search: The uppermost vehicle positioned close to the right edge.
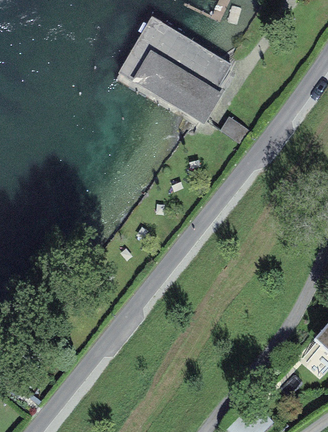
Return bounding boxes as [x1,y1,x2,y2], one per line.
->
[310,76,328,98]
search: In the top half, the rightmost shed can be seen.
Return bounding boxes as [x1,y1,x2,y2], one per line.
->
[221,117,248,142]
